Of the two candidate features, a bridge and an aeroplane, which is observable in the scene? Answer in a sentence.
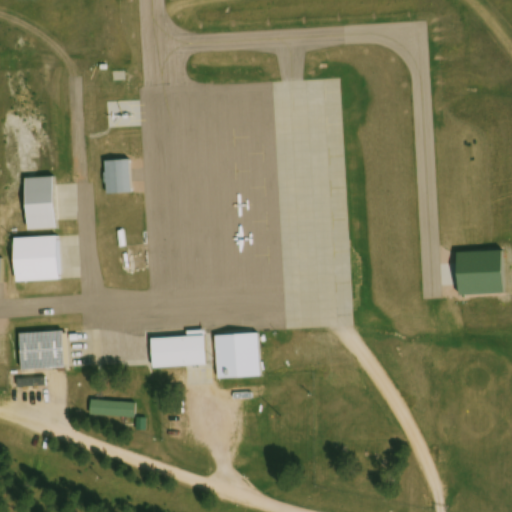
Looking from above, you can make out an aeroplane.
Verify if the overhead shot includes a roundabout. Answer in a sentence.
No, the photo shows no roundabout.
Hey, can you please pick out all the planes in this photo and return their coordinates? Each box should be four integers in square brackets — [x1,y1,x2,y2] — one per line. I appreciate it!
[232,224,253,252]
[233,193,250,218]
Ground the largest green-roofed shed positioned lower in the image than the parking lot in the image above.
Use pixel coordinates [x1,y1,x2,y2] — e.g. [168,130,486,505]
[89,398,136,418]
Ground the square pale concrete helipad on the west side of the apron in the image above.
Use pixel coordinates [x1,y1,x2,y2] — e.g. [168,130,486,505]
[107,100,144,128]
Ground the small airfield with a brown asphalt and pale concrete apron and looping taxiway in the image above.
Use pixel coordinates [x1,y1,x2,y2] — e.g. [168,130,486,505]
[141,0,442,329]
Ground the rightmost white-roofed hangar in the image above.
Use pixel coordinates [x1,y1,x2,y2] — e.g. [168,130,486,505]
[214,332,262,380]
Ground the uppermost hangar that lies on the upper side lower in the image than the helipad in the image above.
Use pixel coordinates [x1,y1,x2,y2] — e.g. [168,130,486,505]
[104,159,133,194]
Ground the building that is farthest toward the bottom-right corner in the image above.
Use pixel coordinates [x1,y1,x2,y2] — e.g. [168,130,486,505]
[456,249,504,296]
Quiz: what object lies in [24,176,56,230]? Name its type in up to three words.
hangar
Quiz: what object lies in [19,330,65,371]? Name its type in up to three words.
hangar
